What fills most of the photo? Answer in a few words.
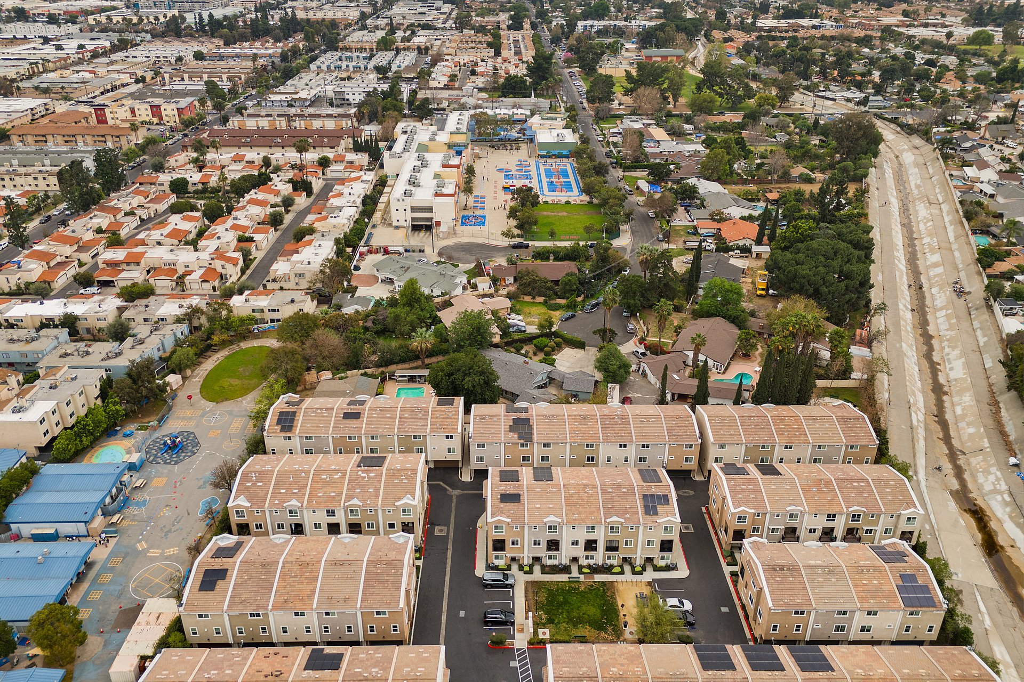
buildings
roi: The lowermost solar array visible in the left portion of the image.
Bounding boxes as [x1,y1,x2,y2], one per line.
[296,649,341,676]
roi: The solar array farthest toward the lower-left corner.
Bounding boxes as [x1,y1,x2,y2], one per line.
[194,567,228,594]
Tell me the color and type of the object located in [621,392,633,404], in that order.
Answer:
red vehicle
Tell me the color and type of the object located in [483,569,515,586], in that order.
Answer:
gray car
